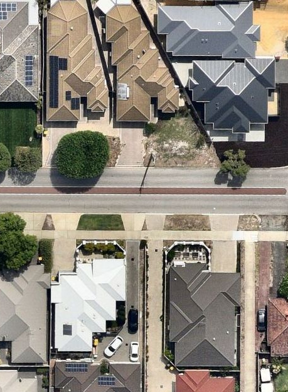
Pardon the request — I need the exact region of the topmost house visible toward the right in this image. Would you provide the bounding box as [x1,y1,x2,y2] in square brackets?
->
[156,1,260,59]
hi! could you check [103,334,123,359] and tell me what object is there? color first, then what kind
white car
